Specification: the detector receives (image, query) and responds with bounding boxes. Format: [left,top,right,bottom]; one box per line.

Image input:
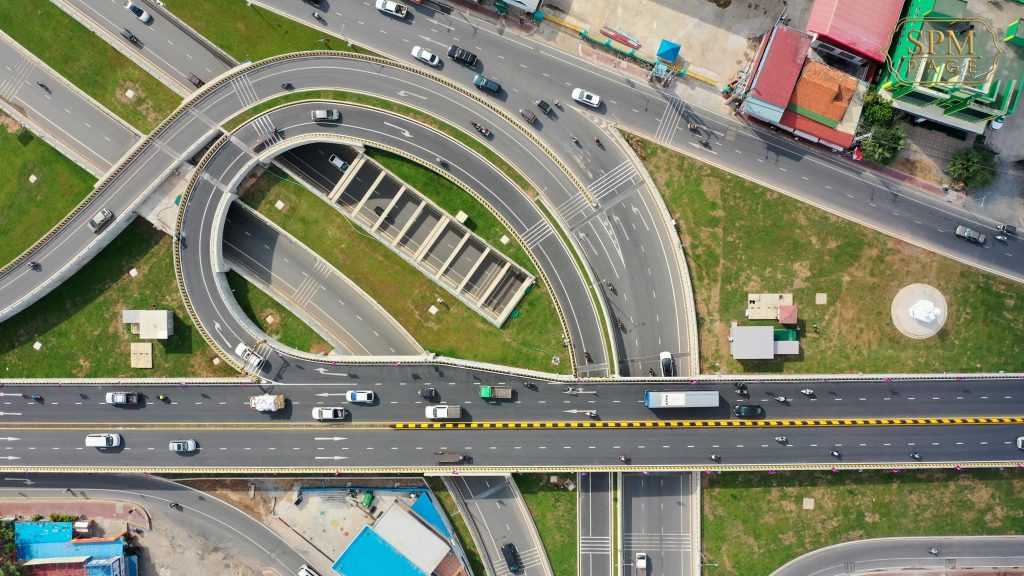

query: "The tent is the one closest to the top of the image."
[656,39,681,64]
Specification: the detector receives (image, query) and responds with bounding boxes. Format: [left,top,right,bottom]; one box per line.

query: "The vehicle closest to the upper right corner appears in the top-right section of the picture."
[987,118,1005,138]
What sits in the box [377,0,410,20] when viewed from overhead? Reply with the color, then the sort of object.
white vehicle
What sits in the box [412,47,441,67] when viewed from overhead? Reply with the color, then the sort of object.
white car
